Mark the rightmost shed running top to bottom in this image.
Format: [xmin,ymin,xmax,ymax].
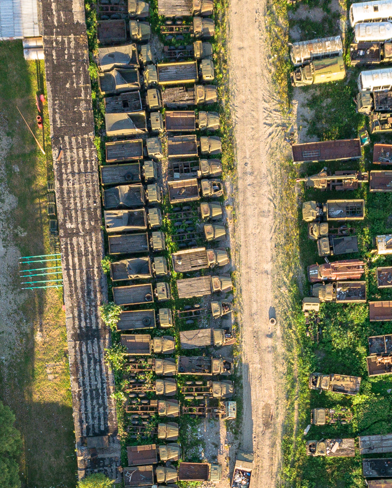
[46,0,124,485]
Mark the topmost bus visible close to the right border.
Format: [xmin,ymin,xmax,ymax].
[348,1,392,27]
